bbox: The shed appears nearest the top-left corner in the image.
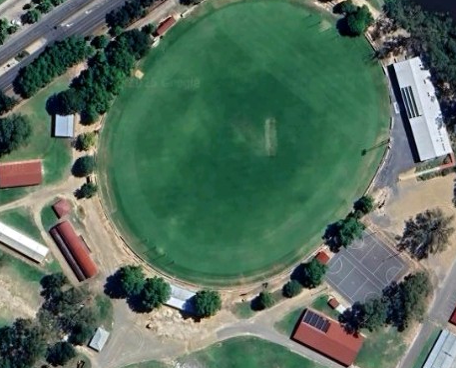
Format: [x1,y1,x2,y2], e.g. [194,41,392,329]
[54,113,73,137]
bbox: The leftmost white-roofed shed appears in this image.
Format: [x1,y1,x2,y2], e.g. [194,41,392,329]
[0,224,47,264]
